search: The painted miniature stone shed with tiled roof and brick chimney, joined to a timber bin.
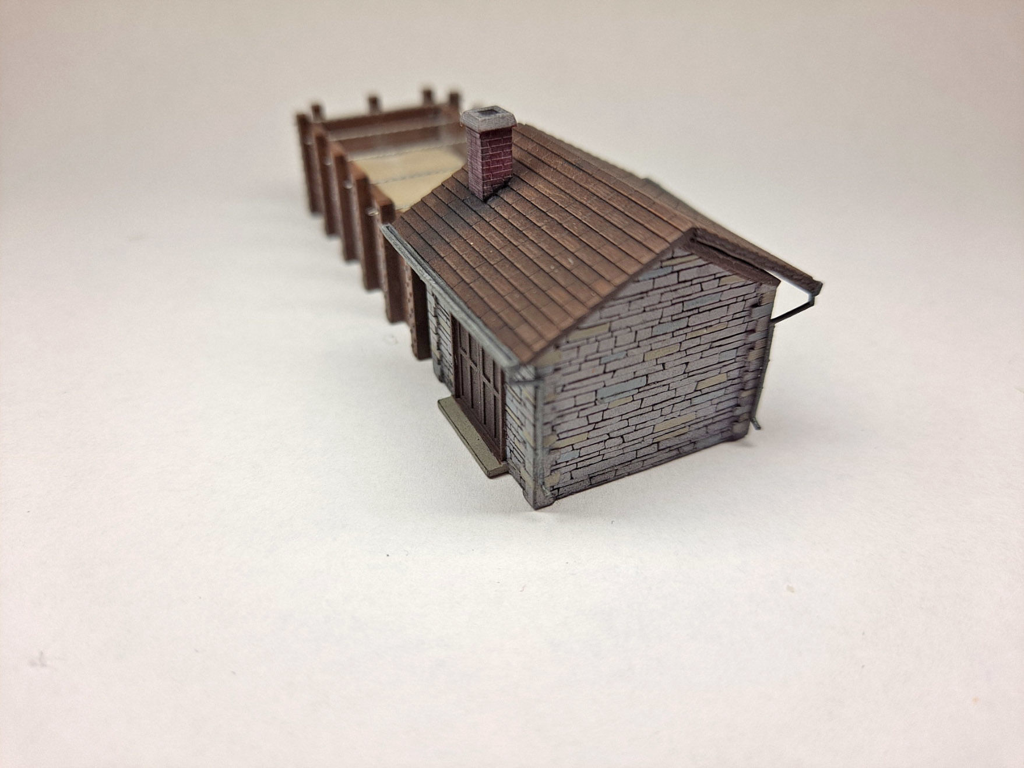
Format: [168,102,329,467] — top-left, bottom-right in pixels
[294,89,824,507]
